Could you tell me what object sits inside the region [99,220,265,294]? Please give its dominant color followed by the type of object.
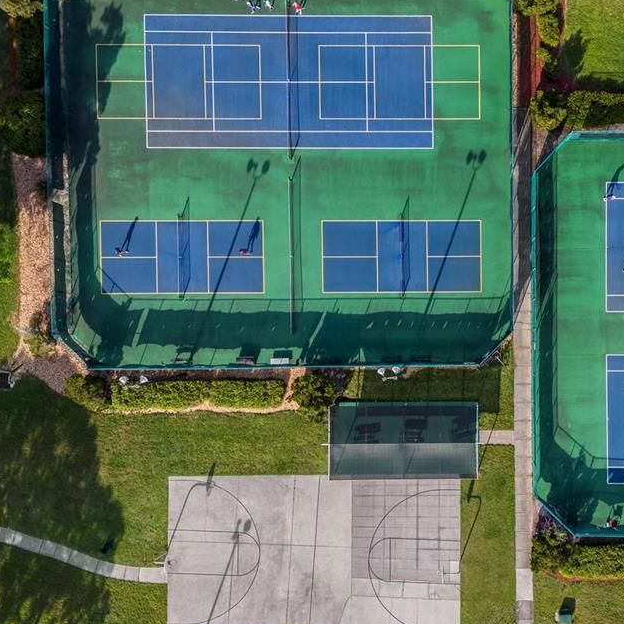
blue sports court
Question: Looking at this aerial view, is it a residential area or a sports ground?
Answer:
sports ground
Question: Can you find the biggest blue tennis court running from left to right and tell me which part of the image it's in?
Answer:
top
